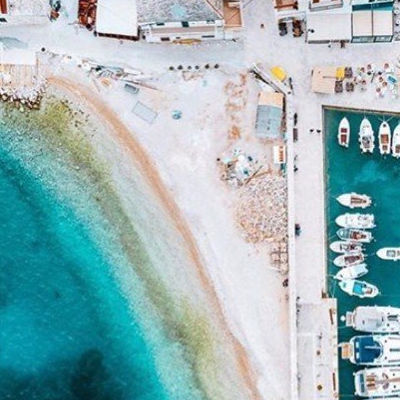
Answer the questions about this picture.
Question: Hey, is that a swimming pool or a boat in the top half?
boat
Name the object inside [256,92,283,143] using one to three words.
shed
